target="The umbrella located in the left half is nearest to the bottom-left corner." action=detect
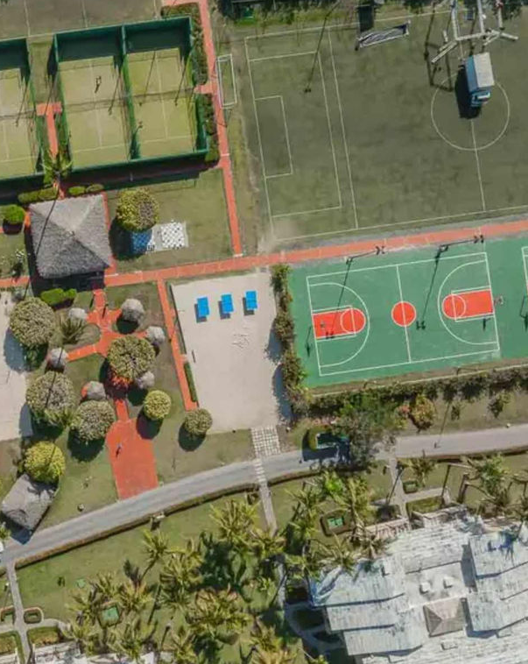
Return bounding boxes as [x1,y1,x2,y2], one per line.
[83,379,105,402]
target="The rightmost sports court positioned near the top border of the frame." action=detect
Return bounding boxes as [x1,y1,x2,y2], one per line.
[118,27,199,159]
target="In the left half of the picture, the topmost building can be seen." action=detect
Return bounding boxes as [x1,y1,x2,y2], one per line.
[27,194,113,281]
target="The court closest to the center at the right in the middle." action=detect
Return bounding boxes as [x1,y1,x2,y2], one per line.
[306,253,505,375]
